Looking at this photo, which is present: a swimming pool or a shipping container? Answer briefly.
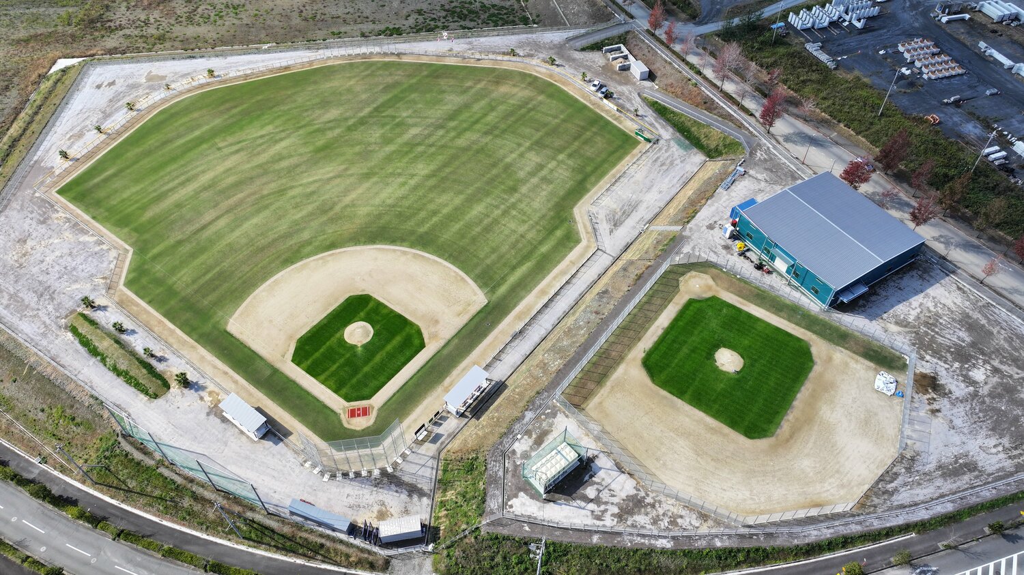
shipping container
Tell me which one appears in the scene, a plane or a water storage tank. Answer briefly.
water storage tank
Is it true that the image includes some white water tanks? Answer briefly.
Yes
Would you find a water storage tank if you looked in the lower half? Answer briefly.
Yes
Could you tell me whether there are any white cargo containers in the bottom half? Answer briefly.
Yes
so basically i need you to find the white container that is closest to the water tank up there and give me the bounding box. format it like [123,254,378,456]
[380,514,425,545]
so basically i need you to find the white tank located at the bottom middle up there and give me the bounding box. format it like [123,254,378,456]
[529,440,583,493]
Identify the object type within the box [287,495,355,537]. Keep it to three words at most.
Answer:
shed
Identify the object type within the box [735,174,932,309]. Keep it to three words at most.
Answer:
building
